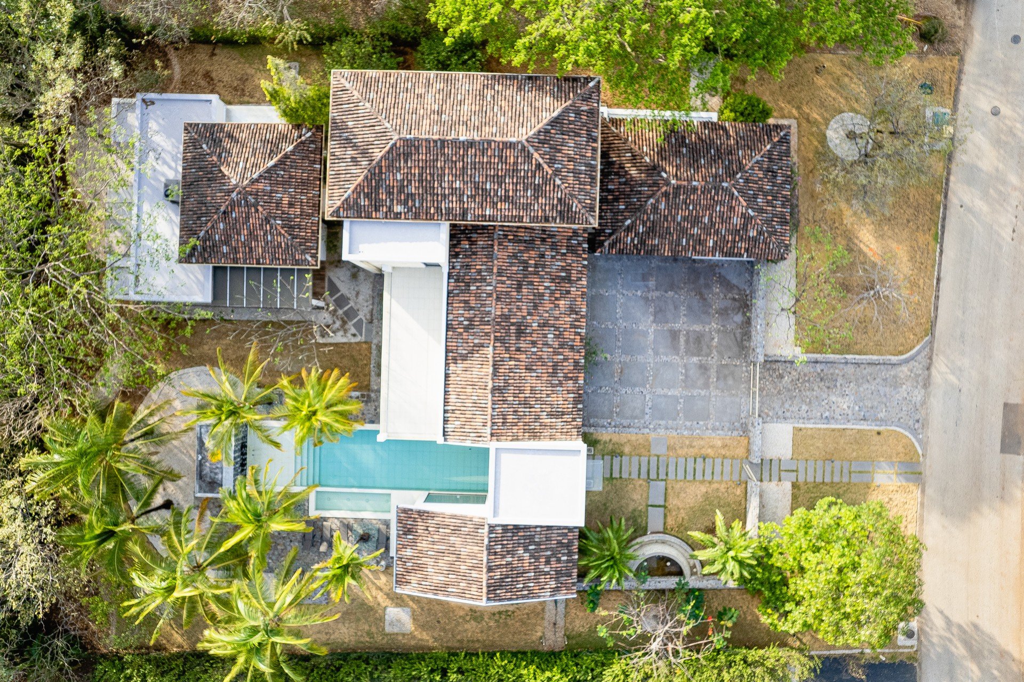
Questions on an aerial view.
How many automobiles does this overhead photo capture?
0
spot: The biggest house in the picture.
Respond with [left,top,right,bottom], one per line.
[324,69,604,606]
